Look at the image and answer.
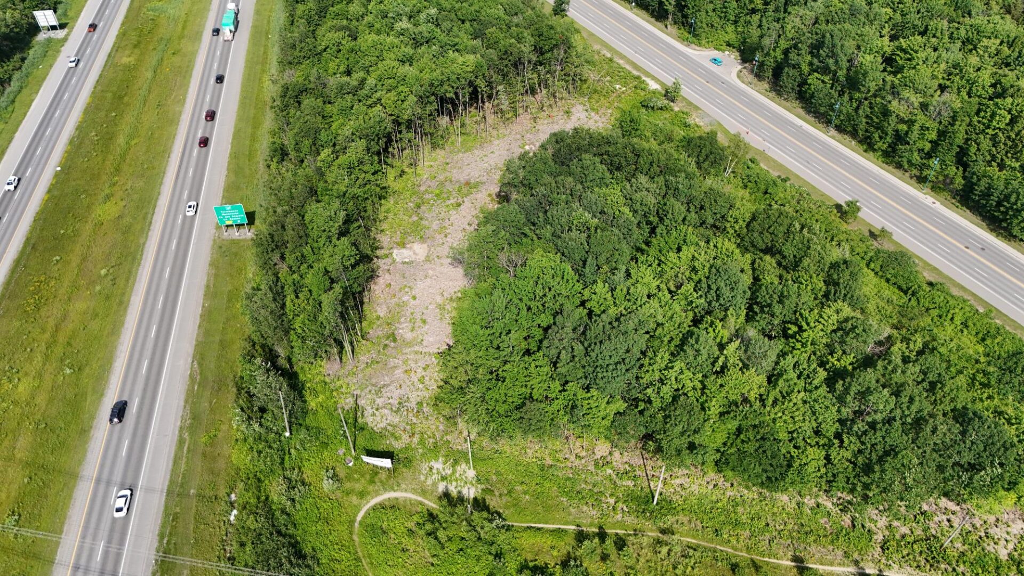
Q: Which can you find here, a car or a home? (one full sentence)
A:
There is a car in the scene.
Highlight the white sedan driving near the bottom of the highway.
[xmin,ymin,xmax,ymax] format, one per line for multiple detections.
[113,488,132,518]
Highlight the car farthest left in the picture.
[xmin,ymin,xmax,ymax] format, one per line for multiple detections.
[4,176,18,190]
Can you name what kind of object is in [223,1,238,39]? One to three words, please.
vehicle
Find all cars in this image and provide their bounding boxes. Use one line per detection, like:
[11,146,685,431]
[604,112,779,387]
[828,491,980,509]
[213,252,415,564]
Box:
[88,23,96,31]
[709,58,724,66]
[108,399,127,424]
[113,488,132,518]
[186,202,197,215]
[198,135,208,147]
[68,57,79,66]
[205,109,215,120]
[215,73,224,83]
[4,176,18,190]
[212,27,220,35]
